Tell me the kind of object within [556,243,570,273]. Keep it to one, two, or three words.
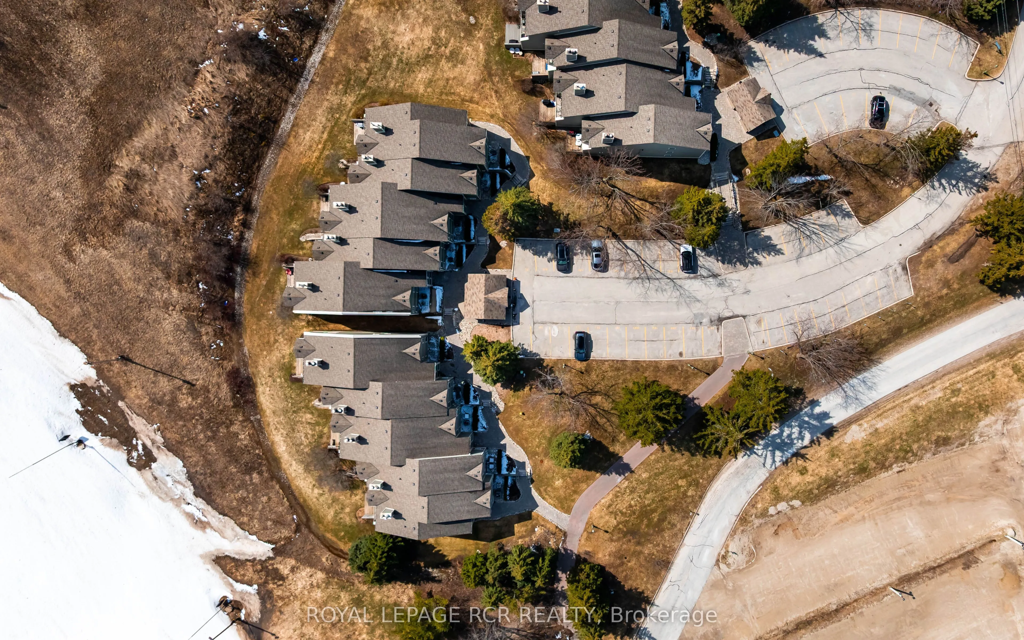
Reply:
car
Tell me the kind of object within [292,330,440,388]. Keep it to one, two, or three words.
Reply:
house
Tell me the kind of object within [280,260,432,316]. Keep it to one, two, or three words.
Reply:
house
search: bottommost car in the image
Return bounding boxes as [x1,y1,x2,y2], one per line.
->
[573,331,588,361]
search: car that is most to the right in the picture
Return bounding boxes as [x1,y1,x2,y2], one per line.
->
[867,95,887,129]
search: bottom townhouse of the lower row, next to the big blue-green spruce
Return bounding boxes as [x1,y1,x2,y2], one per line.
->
[363,483,494,541]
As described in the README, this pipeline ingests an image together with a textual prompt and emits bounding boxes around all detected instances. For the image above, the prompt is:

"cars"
[679,244,693,273]
[573,331,588,361]
[867,95,887,129]
[590,240,604,271]
[556,243,570,273]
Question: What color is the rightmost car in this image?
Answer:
black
